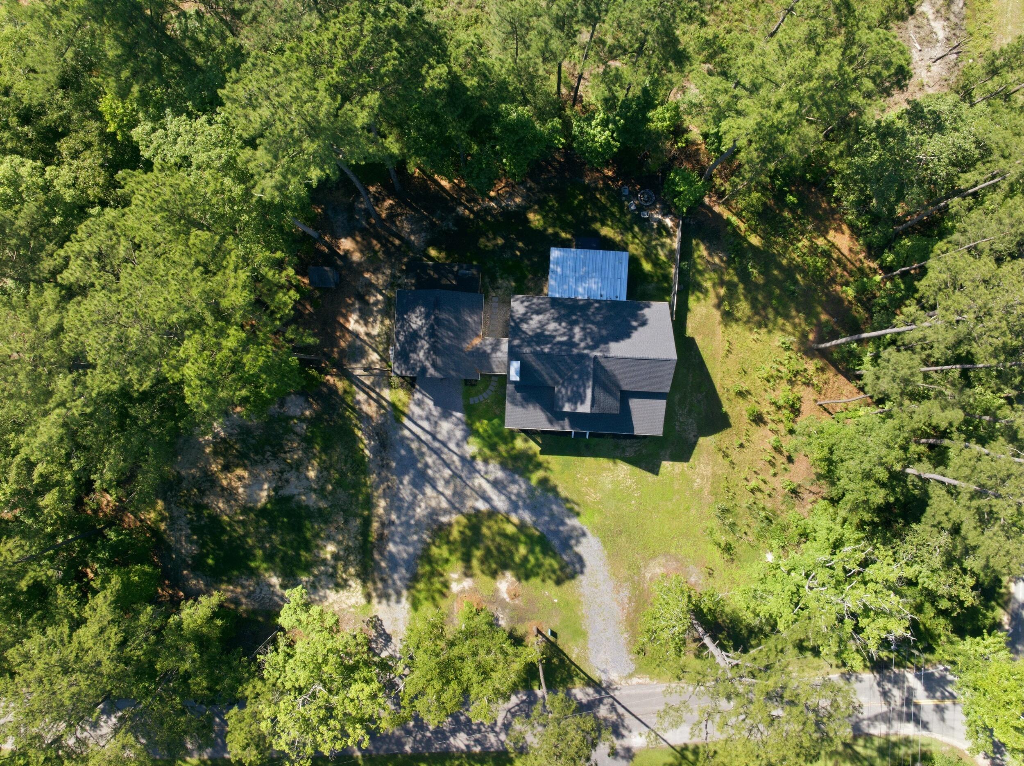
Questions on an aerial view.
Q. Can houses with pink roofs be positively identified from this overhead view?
No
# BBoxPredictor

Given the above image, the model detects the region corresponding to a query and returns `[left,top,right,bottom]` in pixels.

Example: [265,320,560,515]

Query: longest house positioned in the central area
[392,287,677,439]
